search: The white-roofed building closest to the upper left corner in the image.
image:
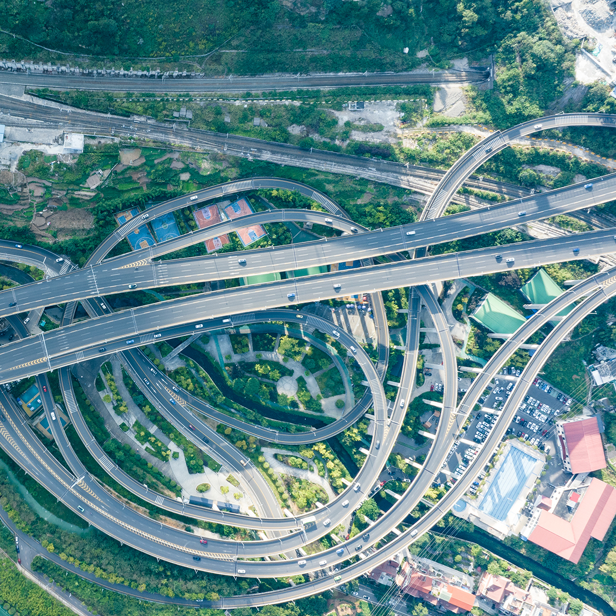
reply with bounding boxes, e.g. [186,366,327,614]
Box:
[65,132,84,154]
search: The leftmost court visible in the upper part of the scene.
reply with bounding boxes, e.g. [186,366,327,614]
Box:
[114,206,156,249]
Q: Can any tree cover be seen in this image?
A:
Yes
